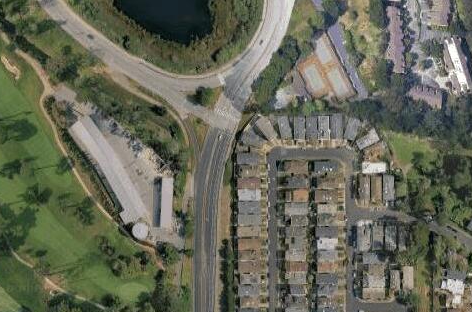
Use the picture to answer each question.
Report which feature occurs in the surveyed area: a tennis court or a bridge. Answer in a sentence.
Looking from above, you can make out a tennis court.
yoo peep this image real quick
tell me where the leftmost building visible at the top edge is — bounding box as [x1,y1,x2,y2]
[385,5,405,72]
